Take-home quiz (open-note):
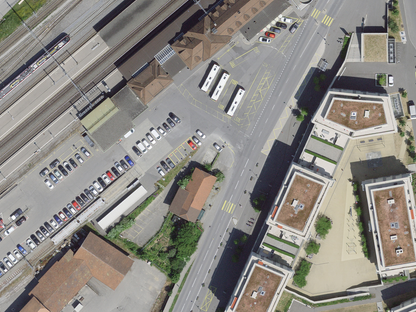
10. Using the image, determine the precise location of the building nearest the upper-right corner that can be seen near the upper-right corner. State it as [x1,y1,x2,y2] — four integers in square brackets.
[361,32,388,62]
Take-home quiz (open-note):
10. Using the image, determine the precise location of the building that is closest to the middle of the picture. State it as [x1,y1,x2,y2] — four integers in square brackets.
[170,168,217,222]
